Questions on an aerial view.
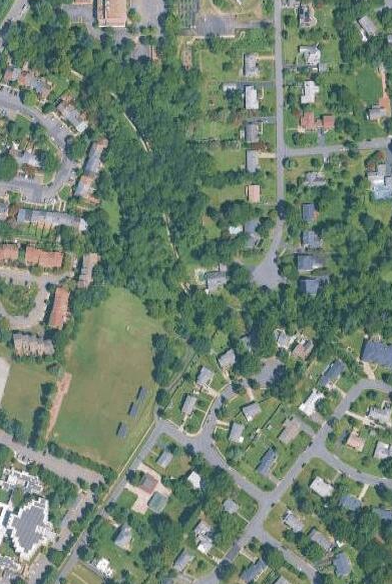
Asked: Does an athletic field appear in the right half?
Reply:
No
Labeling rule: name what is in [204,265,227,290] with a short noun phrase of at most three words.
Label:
house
